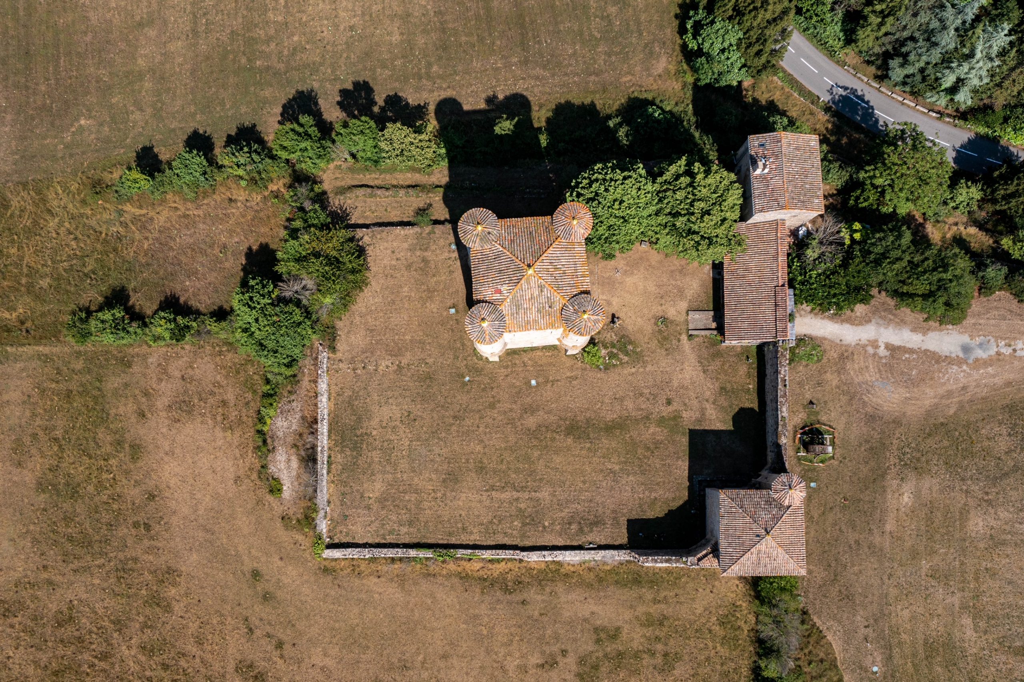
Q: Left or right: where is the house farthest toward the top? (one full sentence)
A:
The house farthest toward the top sits on the right side.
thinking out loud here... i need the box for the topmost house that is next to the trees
[734,131,825,228]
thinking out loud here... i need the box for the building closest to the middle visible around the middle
[457,200,606,357]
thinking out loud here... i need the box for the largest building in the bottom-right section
[708,470,808,577]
